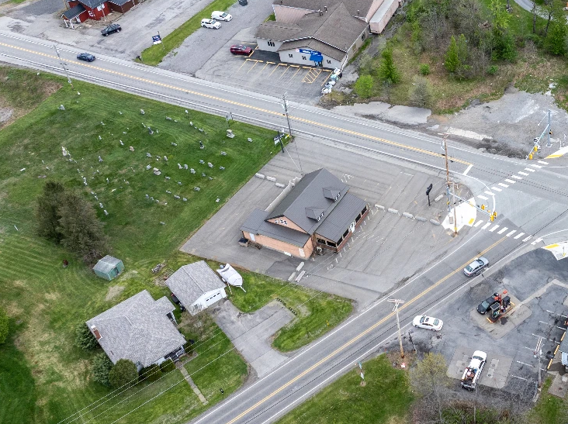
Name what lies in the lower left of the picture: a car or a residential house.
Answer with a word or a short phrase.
residential house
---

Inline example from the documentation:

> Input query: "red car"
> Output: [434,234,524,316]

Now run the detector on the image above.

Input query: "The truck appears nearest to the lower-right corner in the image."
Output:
[461,349,486,386]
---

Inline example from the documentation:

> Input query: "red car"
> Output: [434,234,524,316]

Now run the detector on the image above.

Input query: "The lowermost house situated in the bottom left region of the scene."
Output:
[86,290,194,383]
